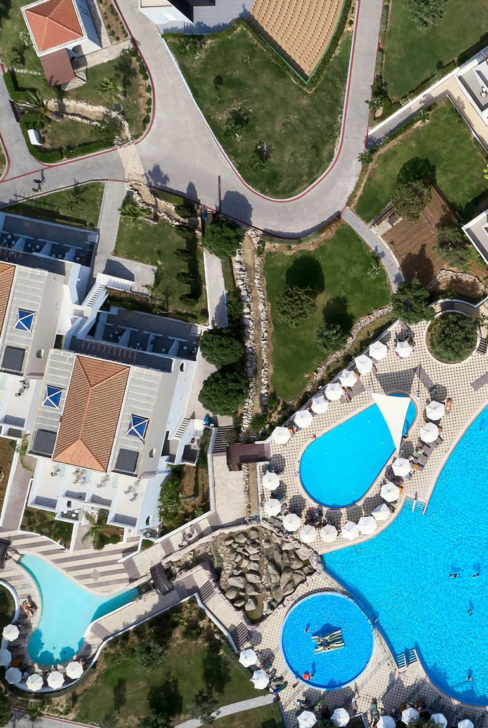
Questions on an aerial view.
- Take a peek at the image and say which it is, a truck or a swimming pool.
swimming pool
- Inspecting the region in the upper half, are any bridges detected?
No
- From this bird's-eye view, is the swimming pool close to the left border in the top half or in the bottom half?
bottom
